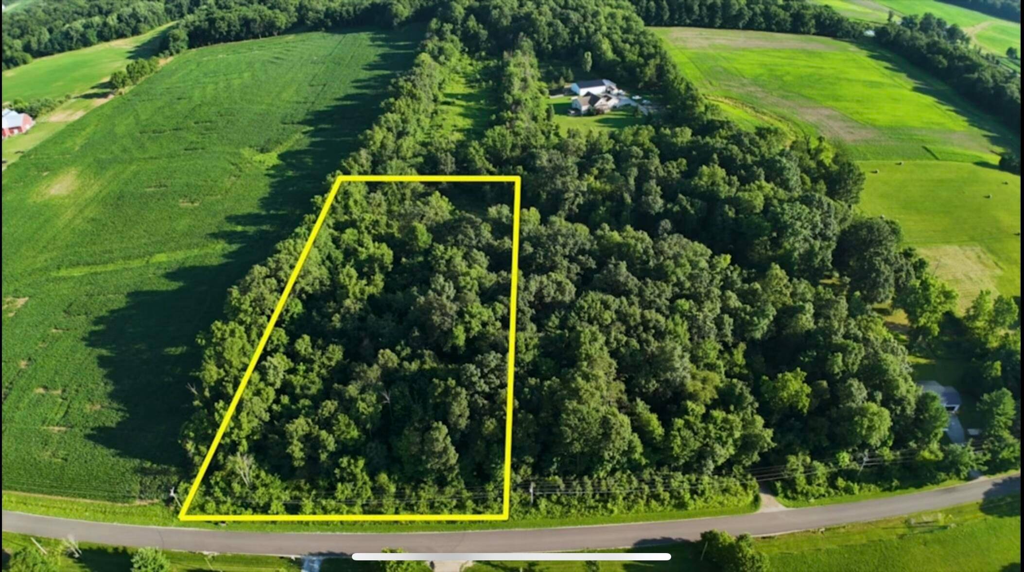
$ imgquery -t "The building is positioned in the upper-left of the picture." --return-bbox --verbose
[0,104,33,132]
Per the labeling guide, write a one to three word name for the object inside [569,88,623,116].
house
